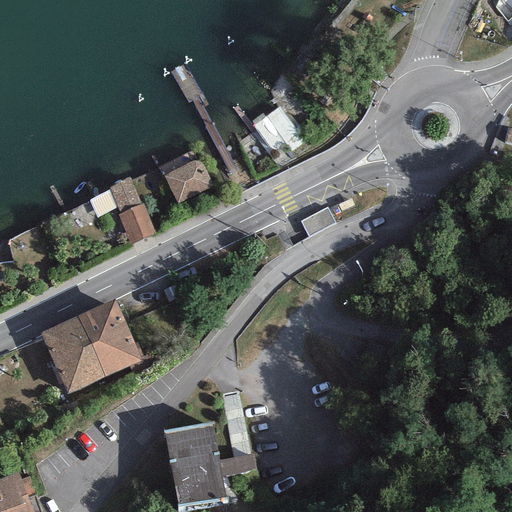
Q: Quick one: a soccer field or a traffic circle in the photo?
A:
traffic circle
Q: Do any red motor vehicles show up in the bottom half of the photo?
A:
Yes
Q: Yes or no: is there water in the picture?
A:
Yes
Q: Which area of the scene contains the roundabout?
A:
top right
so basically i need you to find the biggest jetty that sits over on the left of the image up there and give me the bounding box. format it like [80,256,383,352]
[172,64,236,172]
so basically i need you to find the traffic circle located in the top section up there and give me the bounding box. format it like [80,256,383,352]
[386,76,487,176]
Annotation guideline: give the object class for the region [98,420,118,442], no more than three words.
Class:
car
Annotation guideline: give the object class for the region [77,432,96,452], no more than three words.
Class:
car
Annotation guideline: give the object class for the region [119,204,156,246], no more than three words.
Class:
shed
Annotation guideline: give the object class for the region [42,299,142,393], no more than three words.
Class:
house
